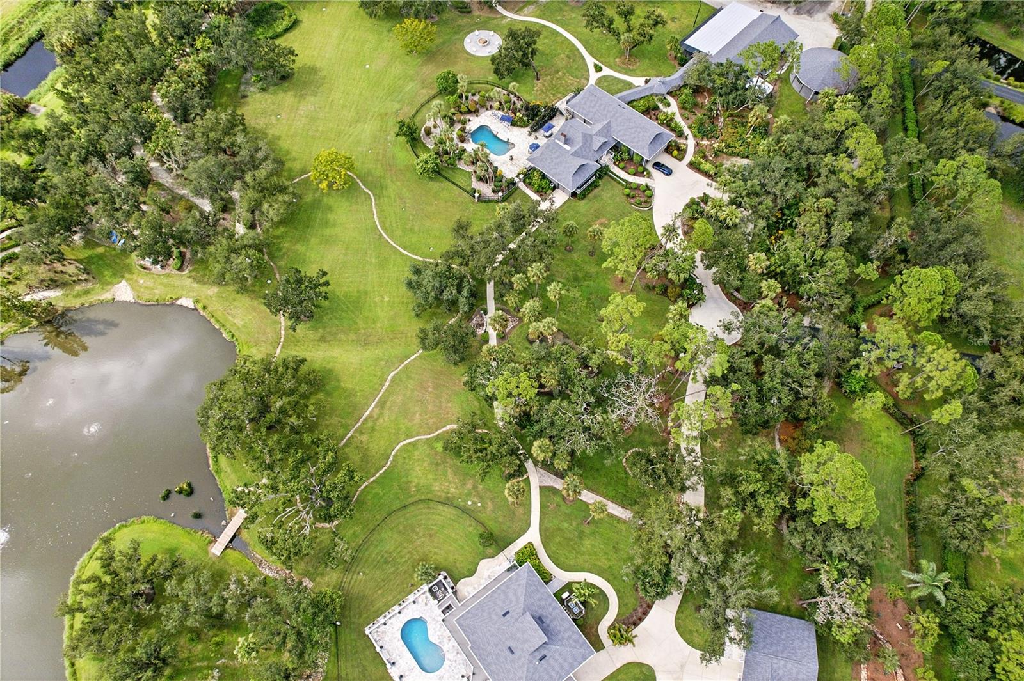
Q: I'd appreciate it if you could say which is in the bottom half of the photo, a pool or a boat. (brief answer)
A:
pool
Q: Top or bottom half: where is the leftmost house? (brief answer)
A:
bottom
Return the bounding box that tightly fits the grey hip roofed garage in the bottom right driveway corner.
[740,608,817,681]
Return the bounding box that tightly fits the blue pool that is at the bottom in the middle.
[399,616,447,676]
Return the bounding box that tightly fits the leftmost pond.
[0,303,252,681]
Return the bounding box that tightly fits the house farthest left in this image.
[454,562,597,681]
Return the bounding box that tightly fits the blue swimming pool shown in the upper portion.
[469,123,516,157]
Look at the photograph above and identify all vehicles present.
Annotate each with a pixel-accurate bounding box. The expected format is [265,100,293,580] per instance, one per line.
[649,160,675,177]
